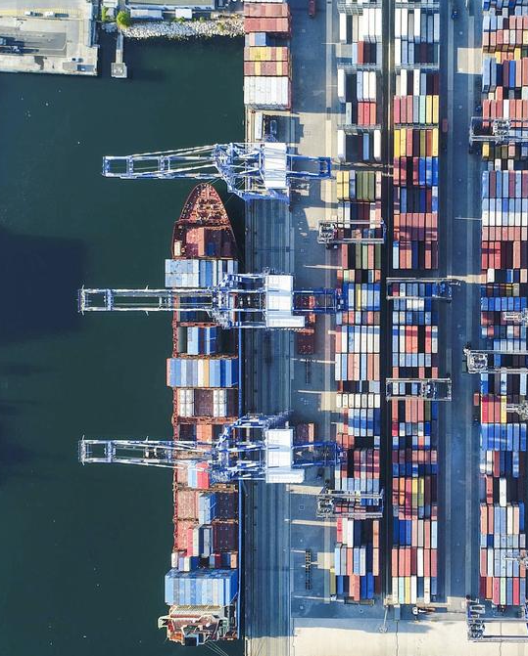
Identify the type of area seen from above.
port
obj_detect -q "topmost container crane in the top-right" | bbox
[468,116,528,154]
